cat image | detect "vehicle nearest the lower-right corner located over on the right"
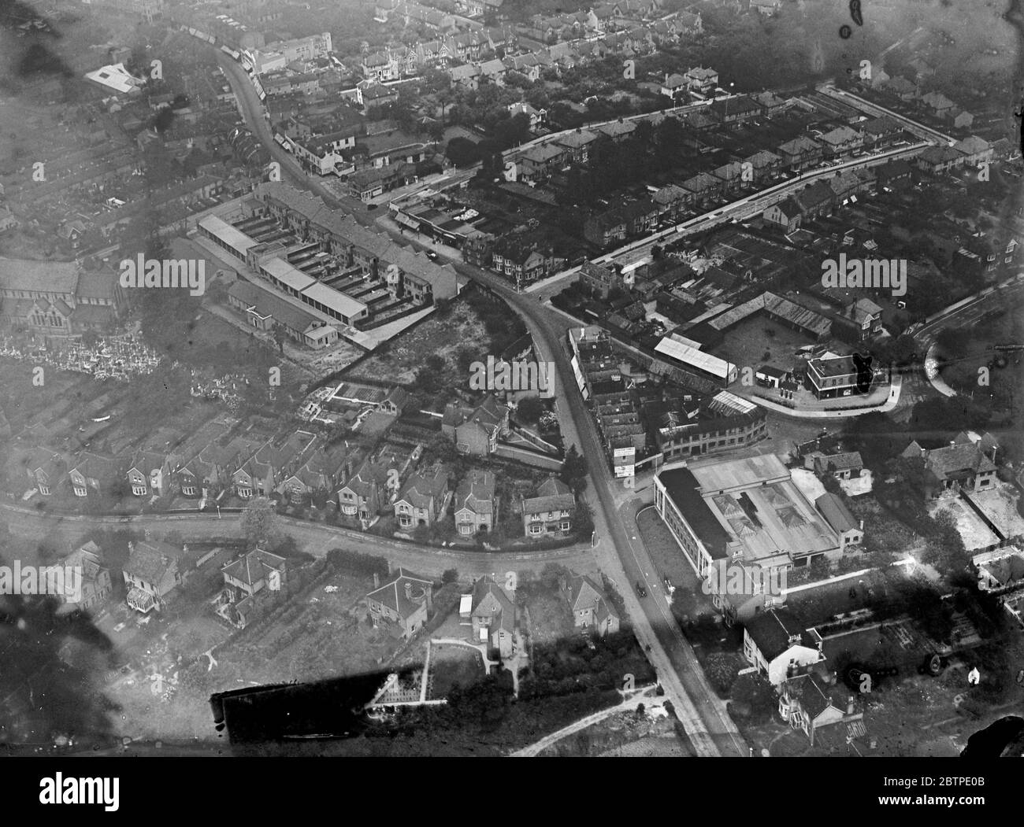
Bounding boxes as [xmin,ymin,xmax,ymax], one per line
[635,581,648,597]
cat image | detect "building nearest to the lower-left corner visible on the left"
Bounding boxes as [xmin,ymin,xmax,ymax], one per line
[46,542,117,612]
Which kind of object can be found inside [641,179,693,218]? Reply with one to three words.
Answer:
house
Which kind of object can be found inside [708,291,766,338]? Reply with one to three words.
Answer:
shed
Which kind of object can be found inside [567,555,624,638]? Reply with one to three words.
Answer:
house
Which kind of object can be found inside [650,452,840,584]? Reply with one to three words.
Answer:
building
